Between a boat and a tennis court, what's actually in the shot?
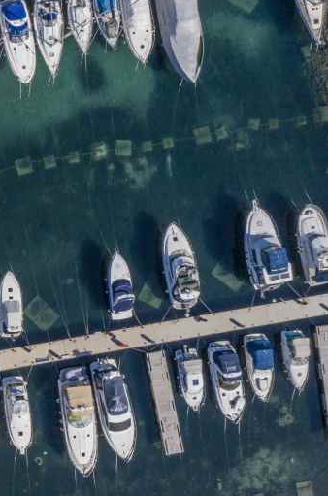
boat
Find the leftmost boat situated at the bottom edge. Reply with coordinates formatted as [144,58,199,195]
[0,366,31,496]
